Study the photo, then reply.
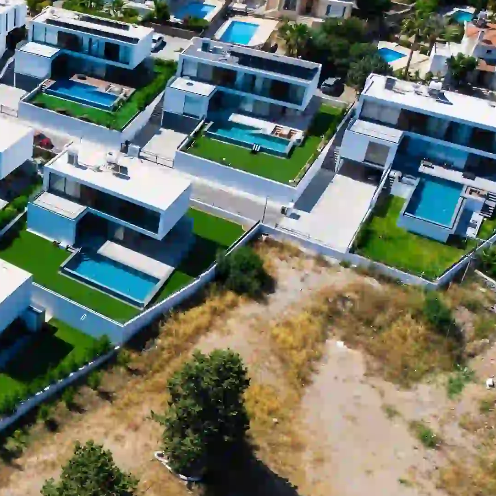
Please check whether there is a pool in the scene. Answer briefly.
Yes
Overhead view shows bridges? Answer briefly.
No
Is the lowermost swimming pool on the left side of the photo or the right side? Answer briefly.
left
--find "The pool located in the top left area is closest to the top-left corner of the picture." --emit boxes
[37,74,136,114]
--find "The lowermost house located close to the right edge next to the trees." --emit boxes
[325,68,496,180]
